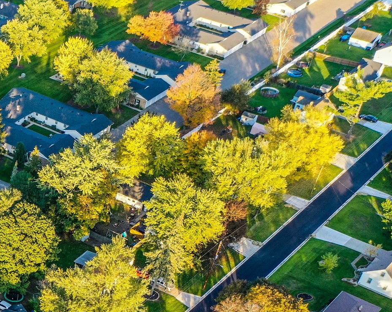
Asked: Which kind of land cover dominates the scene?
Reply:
trees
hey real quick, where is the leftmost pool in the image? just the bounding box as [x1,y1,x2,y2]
[260,84,282,96]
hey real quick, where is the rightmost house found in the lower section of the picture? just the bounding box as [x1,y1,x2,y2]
[358,246,392,294]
